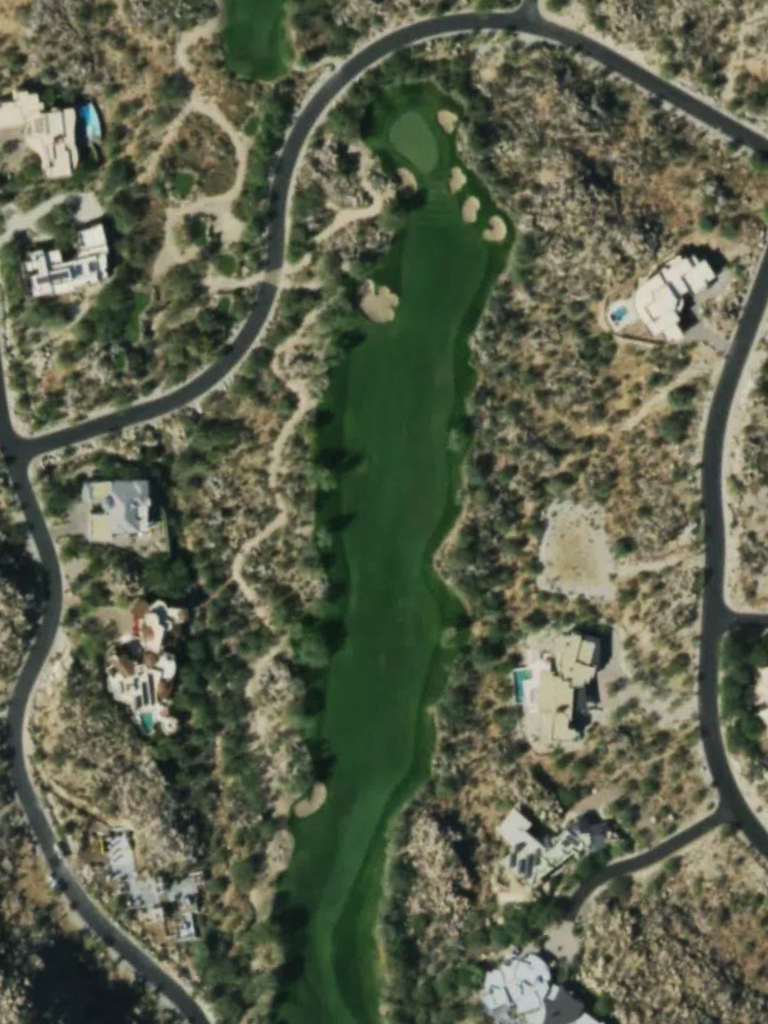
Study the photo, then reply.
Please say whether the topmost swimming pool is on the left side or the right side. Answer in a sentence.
You can find the topmost swimming pool on the left side of the picture.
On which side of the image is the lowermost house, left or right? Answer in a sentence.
The lowermost house sits on the right side.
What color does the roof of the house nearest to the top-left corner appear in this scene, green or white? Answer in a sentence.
The color of the roof of the house nearest to the top-left corner is white.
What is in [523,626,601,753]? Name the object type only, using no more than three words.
house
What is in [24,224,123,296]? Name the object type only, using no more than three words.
house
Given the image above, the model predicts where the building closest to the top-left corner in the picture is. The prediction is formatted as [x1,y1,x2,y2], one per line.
[0,90,103,178]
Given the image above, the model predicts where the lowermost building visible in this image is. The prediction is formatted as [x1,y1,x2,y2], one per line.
[483,950,551,1024]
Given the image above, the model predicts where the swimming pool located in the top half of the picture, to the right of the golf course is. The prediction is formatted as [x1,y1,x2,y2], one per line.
[608,304,629,323]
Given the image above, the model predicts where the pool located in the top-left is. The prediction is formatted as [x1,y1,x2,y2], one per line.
[79,101,102,145]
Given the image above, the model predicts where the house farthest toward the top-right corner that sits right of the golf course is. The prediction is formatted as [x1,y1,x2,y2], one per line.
[608,255,716,343]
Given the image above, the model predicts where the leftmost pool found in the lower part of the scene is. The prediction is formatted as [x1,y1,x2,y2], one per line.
[140,710,155,733]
